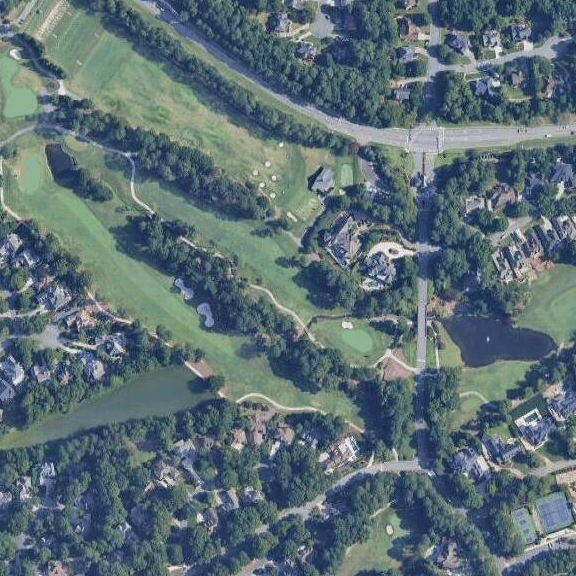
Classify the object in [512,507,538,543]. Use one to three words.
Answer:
sports court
